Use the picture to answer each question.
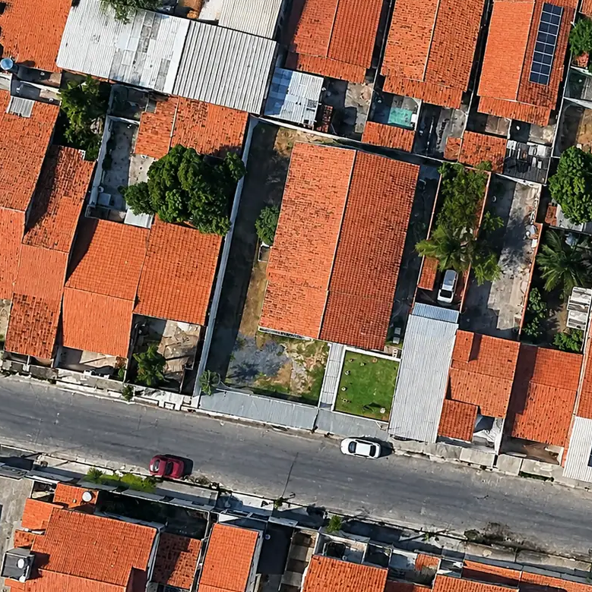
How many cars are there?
3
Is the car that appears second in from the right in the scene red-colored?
No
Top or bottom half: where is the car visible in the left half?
bottom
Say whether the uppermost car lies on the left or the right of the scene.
right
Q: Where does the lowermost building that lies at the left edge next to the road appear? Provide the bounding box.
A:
[8,478,163,592]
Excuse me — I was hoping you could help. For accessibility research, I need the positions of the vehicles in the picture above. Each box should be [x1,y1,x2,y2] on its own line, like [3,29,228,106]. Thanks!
[435,266,458,306]
[342,438,382,458]
[149,457,186,477]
